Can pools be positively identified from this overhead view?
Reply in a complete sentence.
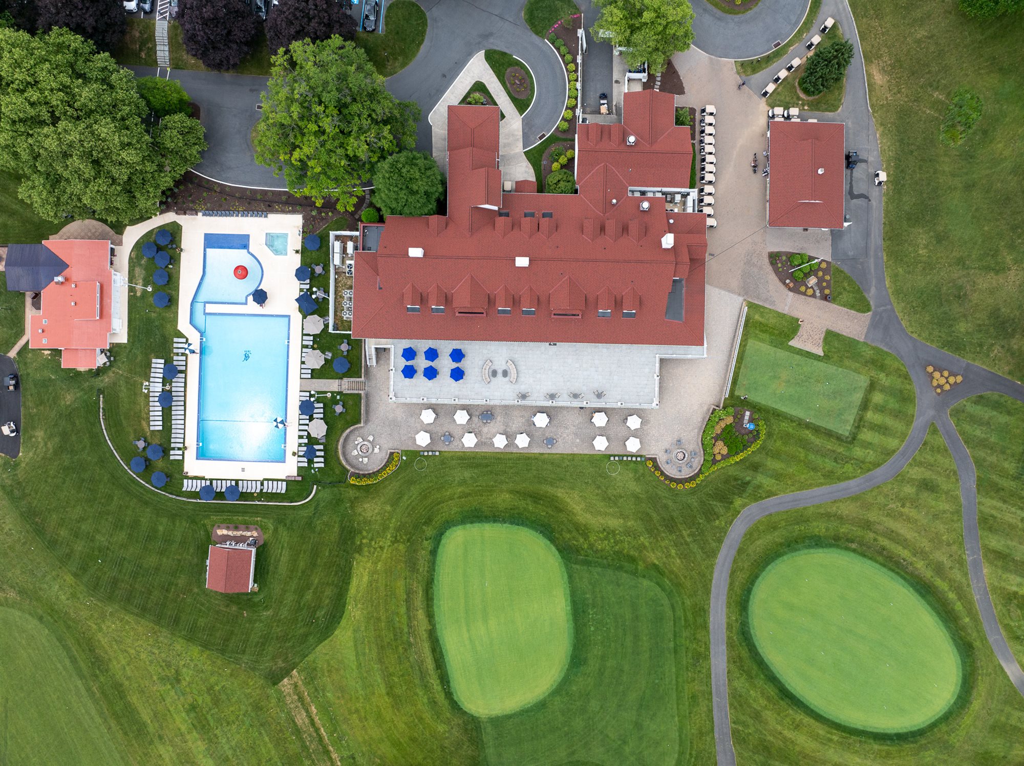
Yes, a pool can be made out from above.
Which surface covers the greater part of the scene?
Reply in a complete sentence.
The largest share of the image is taken up by grass.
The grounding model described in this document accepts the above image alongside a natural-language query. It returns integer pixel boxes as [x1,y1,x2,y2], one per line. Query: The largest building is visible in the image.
[351,89,708,347]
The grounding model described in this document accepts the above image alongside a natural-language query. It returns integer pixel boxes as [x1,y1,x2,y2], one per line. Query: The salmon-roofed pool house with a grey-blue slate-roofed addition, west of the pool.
[5,239,125,369]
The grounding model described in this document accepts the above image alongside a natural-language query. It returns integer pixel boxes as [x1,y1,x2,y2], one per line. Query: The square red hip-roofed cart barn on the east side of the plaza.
[765,120,851,231]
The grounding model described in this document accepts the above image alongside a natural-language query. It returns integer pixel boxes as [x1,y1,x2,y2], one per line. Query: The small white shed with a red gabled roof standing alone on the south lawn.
[203,544,258,593]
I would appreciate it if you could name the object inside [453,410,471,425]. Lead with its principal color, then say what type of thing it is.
white umbrella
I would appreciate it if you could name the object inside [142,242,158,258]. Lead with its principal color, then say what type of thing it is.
blue umbrella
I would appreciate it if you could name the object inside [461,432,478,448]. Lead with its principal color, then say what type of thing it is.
white umbrella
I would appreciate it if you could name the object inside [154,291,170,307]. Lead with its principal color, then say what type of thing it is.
blue umbrella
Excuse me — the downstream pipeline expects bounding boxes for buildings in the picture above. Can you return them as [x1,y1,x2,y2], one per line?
[203,544,258,593]
[5,239,125,369]
[765,120,851,231]
[351,89,708,347]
